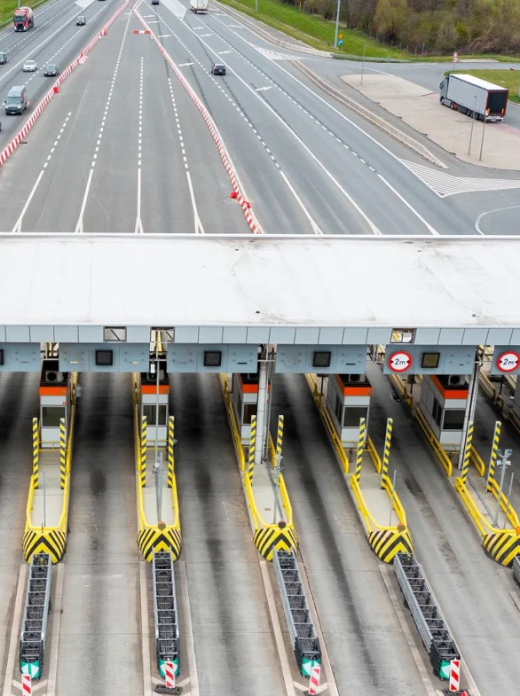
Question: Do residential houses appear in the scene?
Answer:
No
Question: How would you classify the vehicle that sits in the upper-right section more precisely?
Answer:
truck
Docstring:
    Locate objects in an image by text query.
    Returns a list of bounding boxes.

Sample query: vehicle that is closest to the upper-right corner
[440,73,512,121]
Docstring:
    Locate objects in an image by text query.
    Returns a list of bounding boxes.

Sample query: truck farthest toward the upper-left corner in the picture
[9,0,38,30]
